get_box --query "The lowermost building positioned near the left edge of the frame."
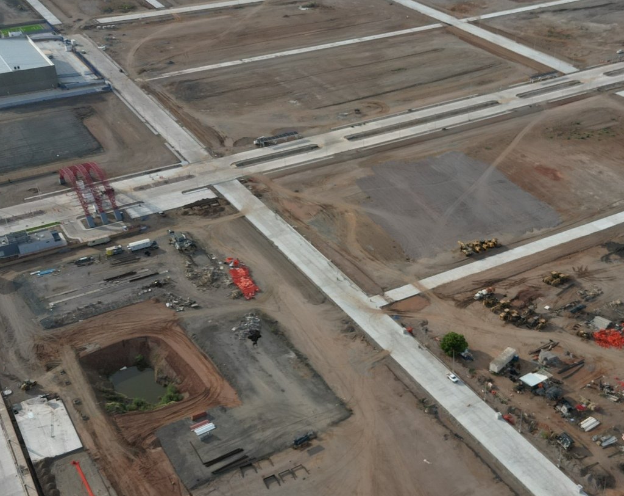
[0,223,65,254]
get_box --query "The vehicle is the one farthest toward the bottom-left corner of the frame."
[17,377,38,391]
